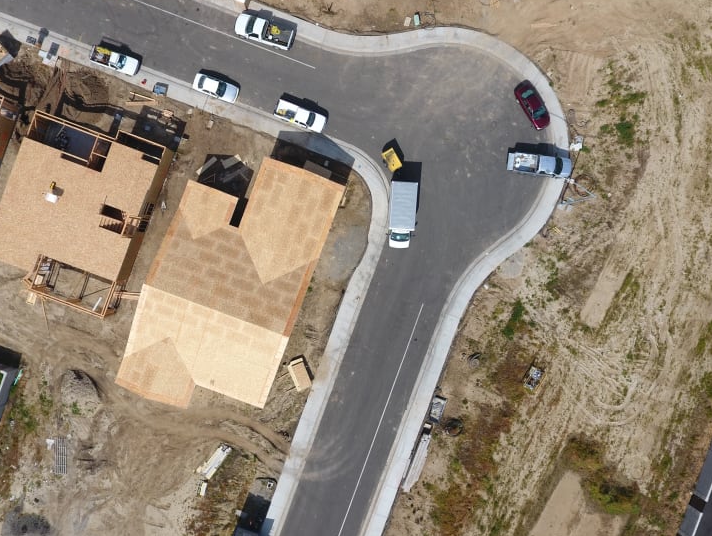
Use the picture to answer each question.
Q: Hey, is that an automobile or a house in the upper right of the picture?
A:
automobile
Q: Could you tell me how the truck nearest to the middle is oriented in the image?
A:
vertically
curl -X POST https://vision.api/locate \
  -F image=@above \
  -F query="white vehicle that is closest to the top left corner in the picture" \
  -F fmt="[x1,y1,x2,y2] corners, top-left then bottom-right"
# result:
[88,42,144,77]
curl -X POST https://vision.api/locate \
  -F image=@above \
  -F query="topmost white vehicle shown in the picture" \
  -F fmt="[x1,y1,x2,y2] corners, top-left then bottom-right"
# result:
[233,15,296,51]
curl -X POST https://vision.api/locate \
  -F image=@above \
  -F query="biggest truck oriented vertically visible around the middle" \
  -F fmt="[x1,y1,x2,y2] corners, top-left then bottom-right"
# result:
[384,176,418,247]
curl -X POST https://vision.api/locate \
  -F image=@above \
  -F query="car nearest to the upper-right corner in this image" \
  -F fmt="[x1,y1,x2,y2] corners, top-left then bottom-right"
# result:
[513,80,549,133]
